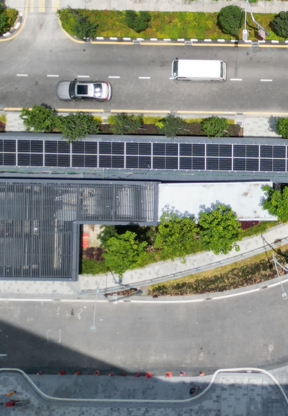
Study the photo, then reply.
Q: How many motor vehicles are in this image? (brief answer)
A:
2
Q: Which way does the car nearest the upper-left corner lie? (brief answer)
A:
from side to side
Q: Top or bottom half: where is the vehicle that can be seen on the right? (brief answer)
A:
top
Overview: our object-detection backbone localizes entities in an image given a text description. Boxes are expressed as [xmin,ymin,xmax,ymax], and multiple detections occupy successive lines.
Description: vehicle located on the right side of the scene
[169,55,229,81]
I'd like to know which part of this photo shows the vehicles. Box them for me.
[169,55,229,81]
[54,77,112,102]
